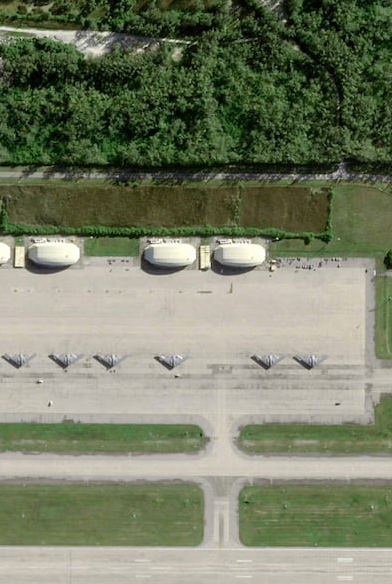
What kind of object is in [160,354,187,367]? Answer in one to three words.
airplane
